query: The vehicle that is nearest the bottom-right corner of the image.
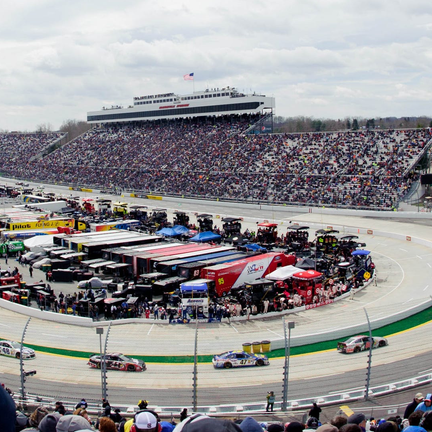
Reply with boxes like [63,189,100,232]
[339,337,381,354]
